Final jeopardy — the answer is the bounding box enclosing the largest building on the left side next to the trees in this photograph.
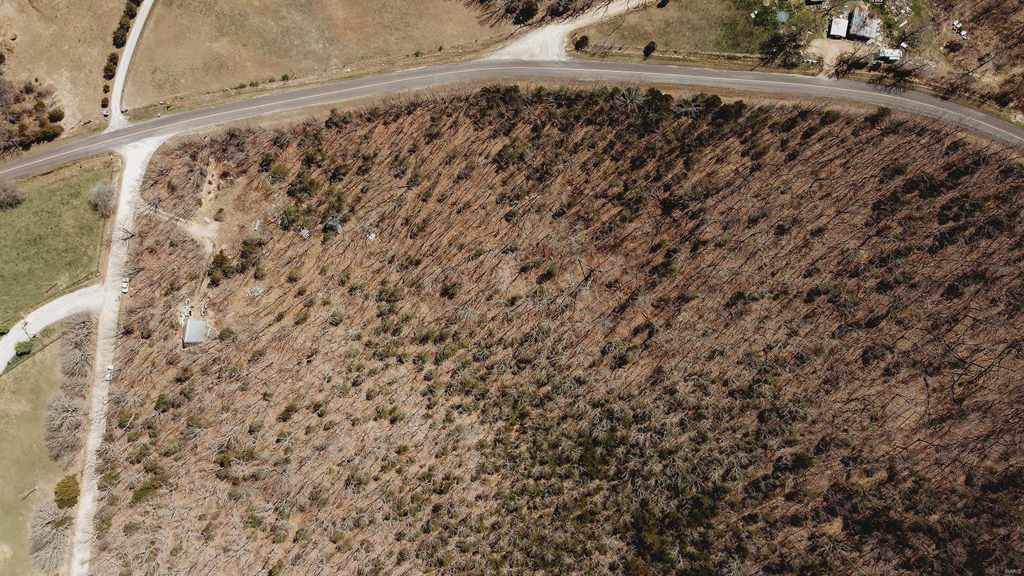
[179,319,204,344]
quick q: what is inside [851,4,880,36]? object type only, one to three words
house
